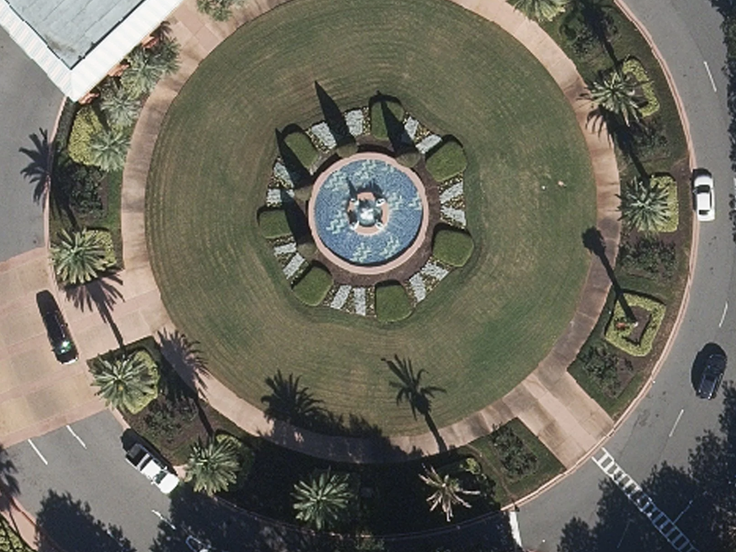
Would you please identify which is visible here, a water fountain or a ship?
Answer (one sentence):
The one in the frame is a water fountain.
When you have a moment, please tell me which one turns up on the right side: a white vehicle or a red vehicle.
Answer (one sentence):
Looking on the right side, you will find a white vehicle.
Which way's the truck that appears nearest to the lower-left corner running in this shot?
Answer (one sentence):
The truck that appears nearest to the lower-left corner has been laid out at an angle relative to the frame.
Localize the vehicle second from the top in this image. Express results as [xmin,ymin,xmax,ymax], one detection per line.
[40,311,78,365]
